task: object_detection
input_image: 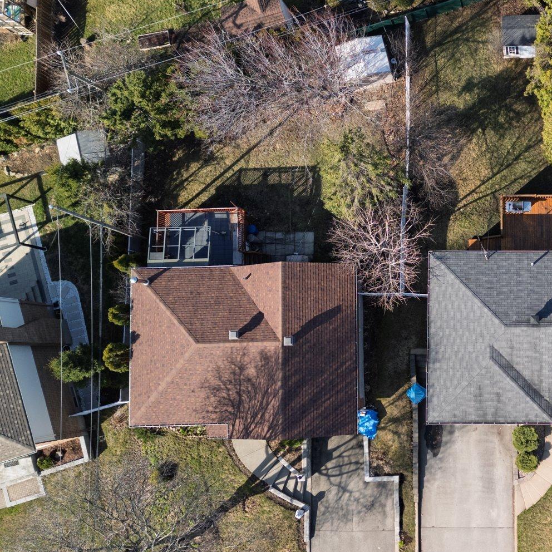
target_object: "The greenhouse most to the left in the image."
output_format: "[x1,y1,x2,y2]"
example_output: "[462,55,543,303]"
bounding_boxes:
[0,0,34,35]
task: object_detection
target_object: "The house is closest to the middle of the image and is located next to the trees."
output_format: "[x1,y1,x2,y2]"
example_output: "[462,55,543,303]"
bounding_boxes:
[126,262,365,441]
